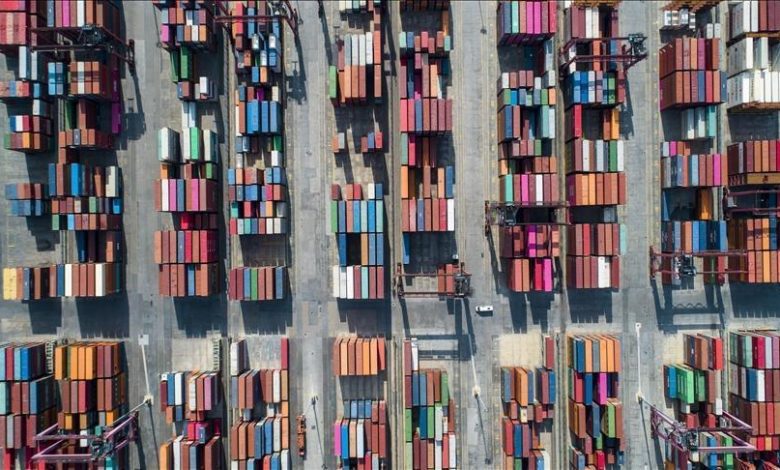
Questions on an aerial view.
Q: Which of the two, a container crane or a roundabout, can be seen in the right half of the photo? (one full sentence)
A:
There is a container crane in the right half of the photo.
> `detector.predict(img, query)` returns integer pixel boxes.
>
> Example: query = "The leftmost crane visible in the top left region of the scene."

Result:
[24,25,132,72]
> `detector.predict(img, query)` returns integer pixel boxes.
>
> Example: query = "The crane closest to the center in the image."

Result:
[394,264,475,299]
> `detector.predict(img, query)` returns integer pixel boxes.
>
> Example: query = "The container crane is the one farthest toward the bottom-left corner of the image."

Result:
[30,411,137,462]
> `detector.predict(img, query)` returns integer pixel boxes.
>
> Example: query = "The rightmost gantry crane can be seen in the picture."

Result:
[726,190,780,219]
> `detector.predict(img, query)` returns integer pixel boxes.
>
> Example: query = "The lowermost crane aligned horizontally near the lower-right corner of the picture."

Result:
[653,404,759,452]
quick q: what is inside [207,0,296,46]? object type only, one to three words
container crane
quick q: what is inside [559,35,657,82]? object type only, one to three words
container crane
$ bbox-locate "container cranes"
[486,199,574,232]
[559,35,657,82]
[651,245,756,276]
[207,0,296,46]
[726,190,780,219]
[394,264,475,299]
[653,404,759,452]
[24,25,132,72]
[30,411,137,462]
